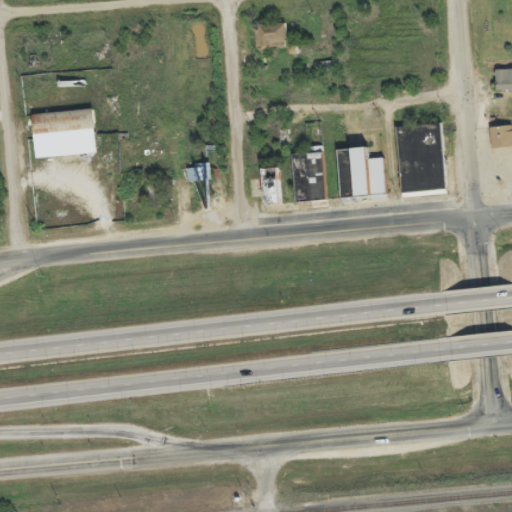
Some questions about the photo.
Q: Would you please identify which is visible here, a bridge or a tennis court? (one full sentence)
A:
I can see a bridge in this picture.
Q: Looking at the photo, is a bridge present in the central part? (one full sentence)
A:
No, in the central part there is no bridge.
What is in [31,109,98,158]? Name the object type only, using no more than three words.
building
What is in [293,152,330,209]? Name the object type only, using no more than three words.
building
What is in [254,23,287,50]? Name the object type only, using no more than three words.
house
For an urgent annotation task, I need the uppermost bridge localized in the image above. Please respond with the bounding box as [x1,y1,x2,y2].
[444,283,512,316]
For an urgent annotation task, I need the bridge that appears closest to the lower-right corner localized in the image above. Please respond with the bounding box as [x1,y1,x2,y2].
[446,330,512,362]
